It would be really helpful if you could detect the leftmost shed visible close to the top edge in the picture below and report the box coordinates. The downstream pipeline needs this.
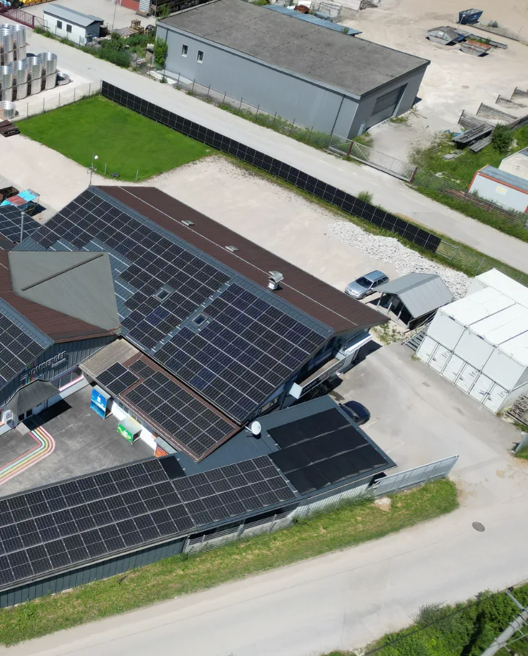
[42,4,104,43]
